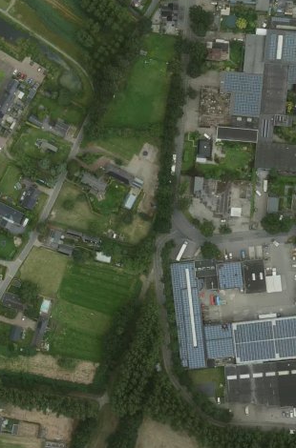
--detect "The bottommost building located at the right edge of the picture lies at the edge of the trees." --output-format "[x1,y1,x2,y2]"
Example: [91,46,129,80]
[223,360,296,407]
